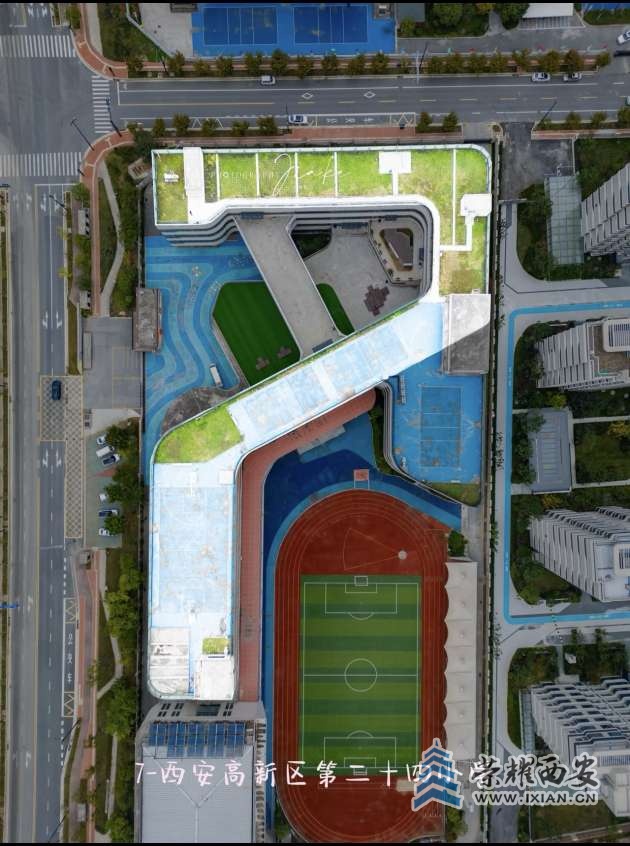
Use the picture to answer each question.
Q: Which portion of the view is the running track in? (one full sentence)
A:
The running track is in the bottom part of the image.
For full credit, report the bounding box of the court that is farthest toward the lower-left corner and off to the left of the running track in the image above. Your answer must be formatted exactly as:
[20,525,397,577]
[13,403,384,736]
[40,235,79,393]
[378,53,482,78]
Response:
[159,488,230,605]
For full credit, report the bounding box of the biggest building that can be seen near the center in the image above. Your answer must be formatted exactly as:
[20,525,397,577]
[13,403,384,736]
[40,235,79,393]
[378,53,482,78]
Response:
[147,145,493,702]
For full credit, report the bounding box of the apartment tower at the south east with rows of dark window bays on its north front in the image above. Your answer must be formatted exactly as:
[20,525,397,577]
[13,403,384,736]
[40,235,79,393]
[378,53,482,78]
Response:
[533,671,630,815]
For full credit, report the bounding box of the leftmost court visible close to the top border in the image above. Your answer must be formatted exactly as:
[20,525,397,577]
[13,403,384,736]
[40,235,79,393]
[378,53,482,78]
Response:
[204,7,277,44]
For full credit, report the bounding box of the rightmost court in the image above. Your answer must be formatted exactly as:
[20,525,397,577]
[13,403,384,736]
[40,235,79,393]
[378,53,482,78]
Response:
[419,387,462,466]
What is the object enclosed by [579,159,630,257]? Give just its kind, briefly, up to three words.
building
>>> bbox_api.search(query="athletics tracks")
[274,489,452,846]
